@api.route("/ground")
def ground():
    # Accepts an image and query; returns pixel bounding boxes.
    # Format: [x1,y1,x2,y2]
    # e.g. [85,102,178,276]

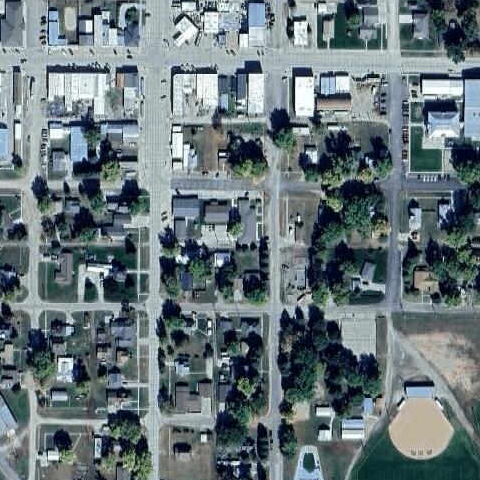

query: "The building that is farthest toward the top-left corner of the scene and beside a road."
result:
[1,0,23,46]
